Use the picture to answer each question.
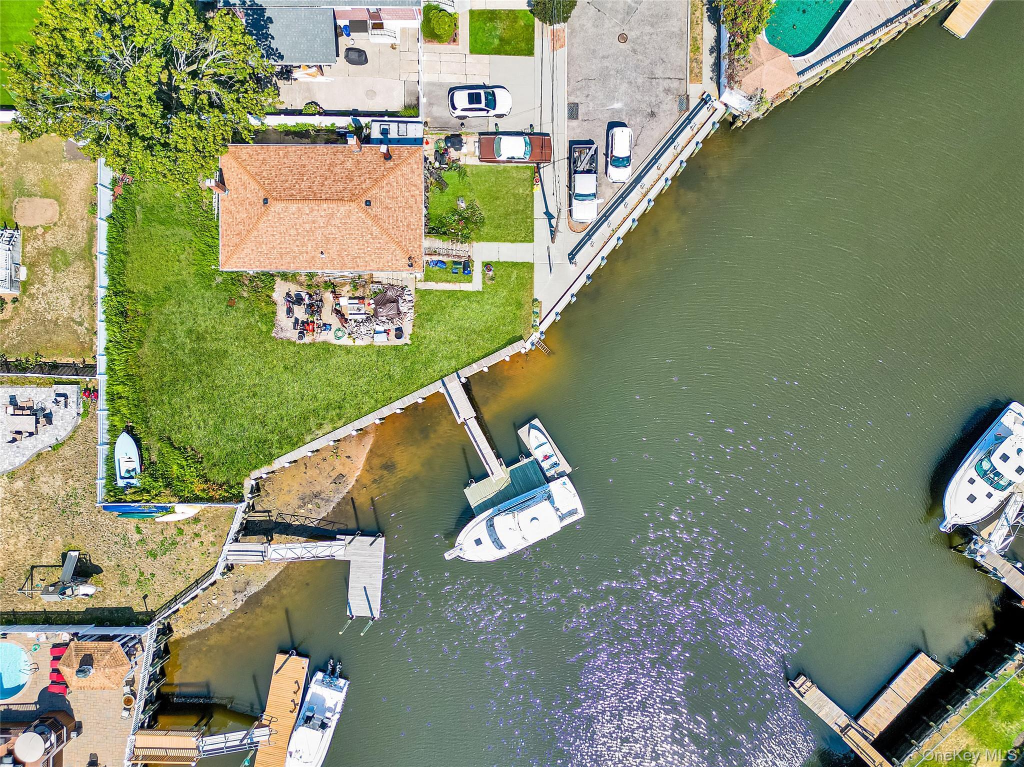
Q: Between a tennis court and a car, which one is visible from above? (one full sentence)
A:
I can see a car in this picture.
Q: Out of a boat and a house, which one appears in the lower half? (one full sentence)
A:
The one visible in the lower half is a boat.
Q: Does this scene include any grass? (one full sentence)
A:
Yes, some grass is visible.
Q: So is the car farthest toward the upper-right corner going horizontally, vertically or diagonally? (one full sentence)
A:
In this picture, the car farthest toward the upper-right corner lies vertically.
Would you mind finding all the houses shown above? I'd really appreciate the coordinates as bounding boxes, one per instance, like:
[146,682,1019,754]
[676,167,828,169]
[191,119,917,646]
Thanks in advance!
[200,135,426,274]
[211,0,423,66]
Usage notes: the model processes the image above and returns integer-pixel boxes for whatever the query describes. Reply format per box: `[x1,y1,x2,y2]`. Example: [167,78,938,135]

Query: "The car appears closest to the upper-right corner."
[607,119,638,183]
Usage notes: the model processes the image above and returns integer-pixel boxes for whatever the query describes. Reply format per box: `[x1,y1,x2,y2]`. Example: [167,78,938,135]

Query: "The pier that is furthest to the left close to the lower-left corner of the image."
[118,718,209,766]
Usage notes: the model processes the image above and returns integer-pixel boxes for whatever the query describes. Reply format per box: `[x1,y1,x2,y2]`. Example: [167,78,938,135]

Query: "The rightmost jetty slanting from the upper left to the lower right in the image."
[980,553,1024,599]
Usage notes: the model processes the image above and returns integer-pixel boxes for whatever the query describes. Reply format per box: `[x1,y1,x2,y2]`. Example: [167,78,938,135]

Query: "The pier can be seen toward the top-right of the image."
[940,0,991,40]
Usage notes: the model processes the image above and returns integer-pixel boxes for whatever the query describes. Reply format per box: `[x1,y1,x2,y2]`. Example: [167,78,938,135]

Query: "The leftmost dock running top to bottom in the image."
[254,653,310,767]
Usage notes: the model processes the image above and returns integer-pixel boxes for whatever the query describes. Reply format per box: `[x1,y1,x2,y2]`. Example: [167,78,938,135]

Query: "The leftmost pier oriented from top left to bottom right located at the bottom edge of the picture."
[788,674,861,737]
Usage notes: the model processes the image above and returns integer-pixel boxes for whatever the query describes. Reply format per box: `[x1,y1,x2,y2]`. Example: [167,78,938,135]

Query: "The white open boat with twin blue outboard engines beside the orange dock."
[288,654,349,767]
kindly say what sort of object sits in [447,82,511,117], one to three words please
car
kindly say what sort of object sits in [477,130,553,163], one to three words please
car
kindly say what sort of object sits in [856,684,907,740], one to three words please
pier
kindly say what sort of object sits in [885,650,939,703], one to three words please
pier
